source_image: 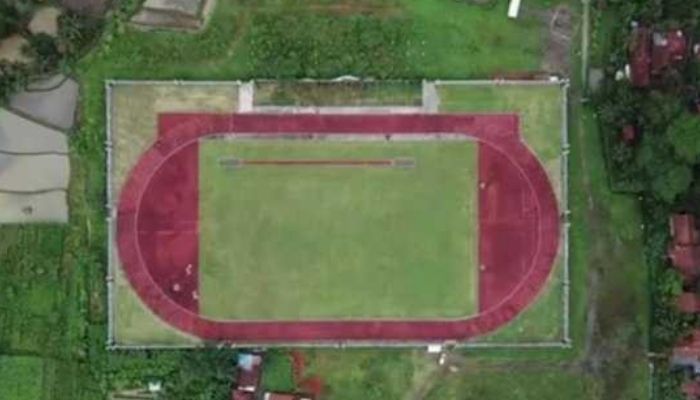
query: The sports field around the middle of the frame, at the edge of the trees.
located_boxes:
[200,138,479,317]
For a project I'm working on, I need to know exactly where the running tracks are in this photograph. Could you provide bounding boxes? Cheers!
[116,114,560,341]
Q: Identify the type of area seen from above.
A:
sports ground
